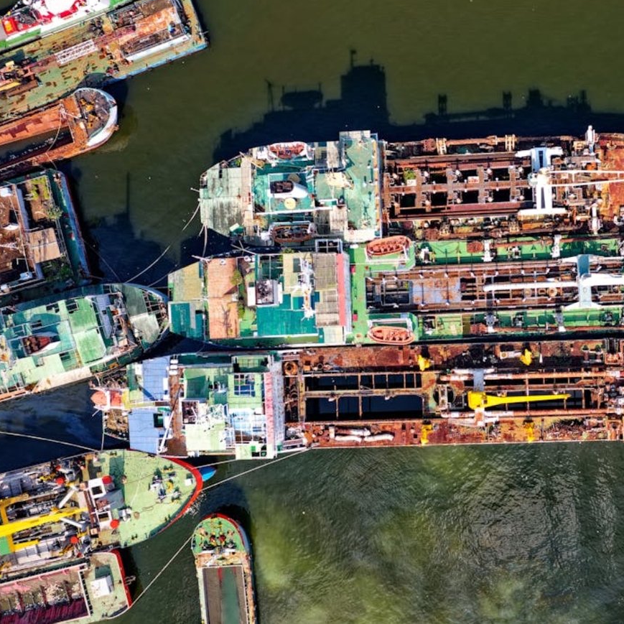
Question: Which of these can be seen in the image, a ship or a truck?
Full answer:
There is a ship in the scene.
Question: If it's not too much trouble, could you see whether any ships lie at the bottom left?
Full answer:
Yes, the scene does show a ship at the bottom left.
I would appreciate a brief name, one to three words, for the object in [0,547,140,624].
ship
